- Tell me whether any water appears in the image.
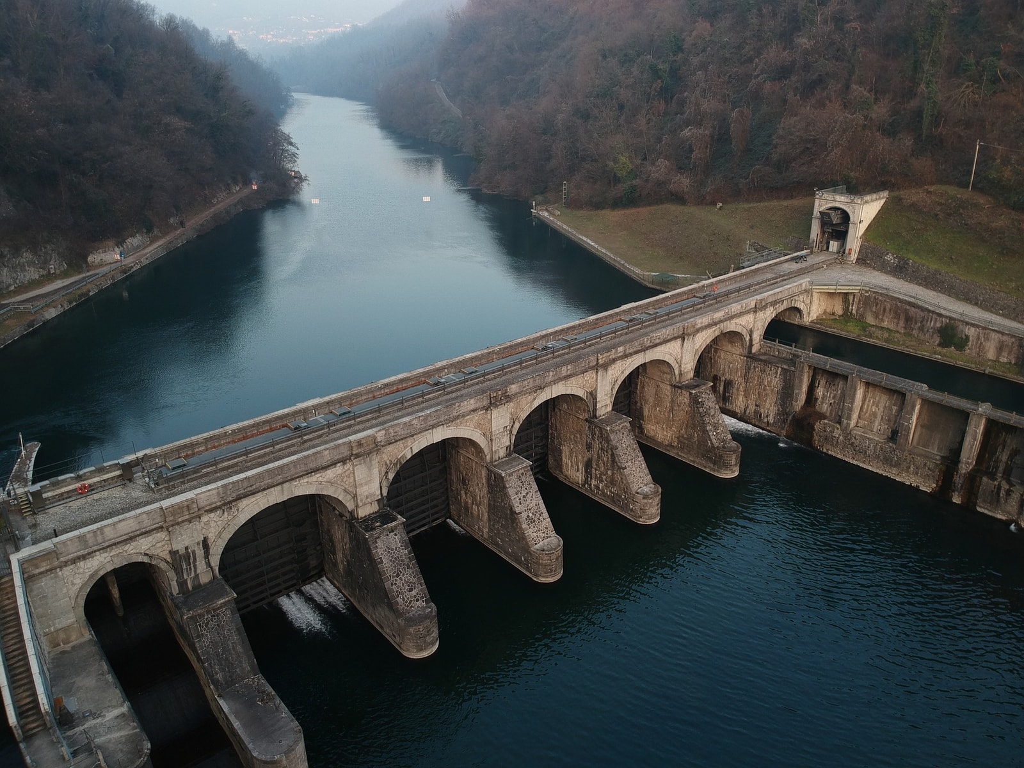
Yes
